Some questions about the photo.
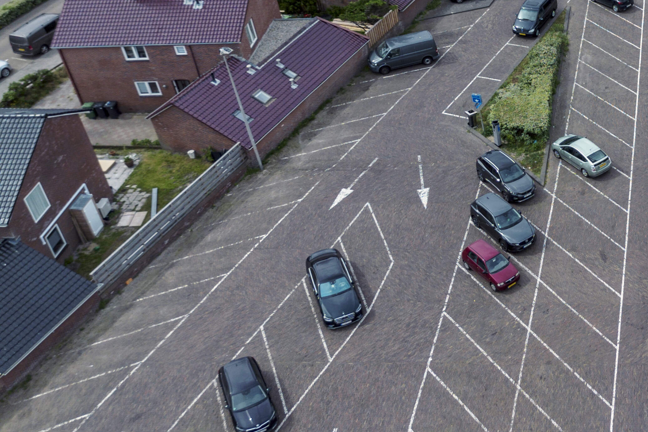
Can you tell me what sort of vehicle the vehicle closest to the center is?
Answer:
automobile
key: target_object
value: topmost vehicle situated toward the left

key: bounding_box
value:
[11,18,59,58]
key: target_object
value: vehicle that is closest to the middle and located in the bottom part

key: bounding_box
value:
[302,250,359,329]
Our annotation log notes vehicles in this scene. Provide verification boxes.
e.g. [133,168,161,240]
[511,0,558,38]
[549,134,612,178]
[11,18,59,58]
[466,193,533,252]
[370,31,438,74]
[302,250,359,329]
[460,239,518,291]
[473,149,534,203]
[590,0,636,12]
[218,352,274,432]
